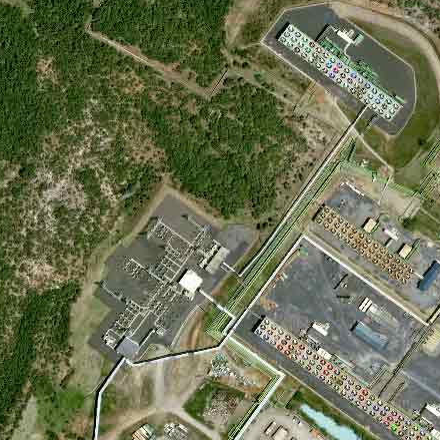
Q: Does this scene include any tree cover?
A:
Yes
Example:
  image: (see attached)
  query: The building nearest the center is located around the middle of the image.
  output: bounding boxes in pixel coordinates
[204,245,228,273]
